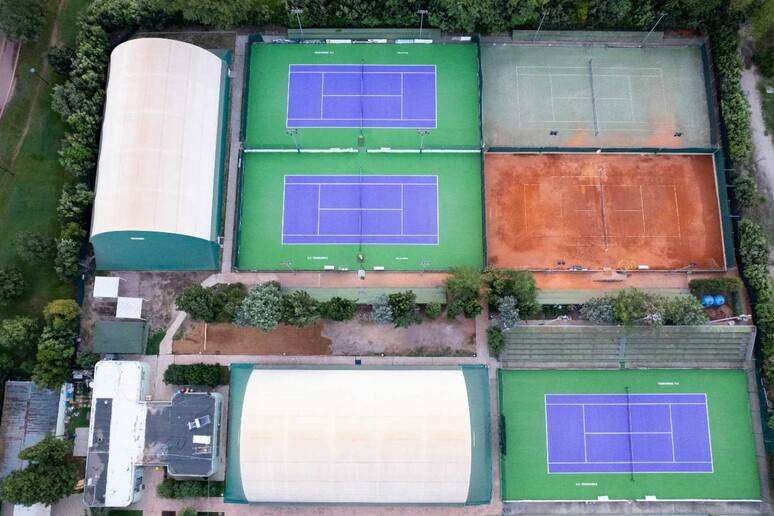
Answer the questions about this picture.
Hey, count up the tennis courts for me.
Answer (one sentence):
The count of tennis courts comes to 5.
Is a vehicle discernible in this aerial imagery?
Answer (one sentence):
No, no vehicle is visible in the view.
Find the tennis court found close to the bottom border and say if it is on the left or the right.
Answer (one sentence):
The tennis court found close to the bottom border is on the right side of the image.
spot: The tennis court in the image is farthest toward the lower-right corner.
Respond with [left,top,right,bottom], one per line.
[500,370,761,502]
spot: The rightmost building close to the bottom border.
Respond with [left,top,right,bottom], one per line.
[224,364,492,507]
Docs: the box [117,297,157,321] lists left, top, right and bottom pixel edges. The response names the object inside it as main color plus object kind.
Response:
white gazebo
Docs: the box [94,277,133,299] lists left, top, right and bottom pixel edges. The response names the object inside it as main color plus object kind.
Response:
white gazebo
